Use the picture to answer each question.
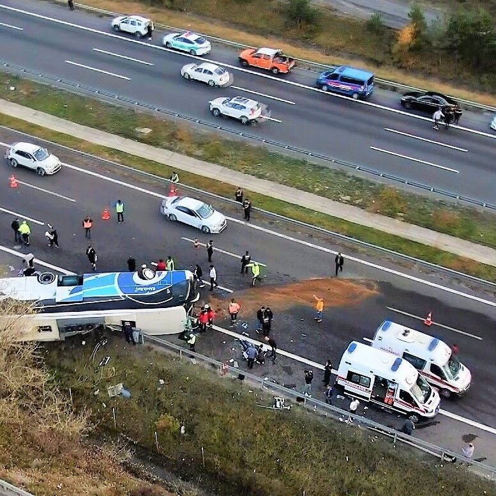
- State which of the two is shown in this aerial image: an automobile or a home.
automobile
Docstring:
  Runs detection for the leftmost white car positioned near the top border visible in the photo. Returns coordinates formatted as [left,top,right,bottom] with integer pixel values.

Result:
[108,14,156,41]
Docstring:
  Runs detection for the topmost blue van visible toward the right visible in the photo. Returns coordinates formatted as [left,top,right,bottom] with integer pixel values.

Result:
[315,67,379,103]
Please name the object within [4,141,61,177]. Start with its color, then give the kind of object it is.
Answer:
white car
